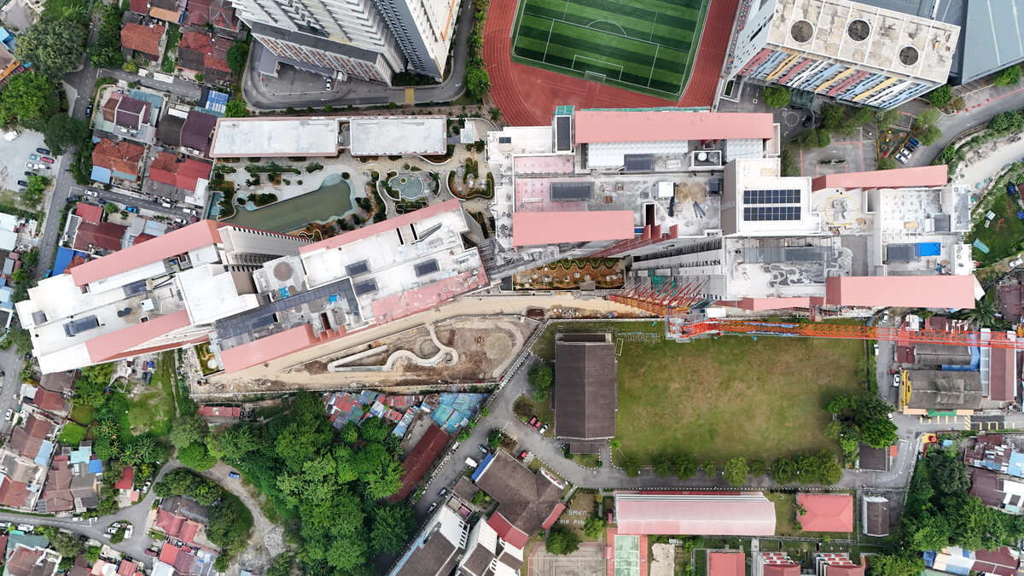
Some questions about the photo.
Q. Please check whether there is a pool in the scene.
Yes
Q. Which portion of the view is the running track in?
top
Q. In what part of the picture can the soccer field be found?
top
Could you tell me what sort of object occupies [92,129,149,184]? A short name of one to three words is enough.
house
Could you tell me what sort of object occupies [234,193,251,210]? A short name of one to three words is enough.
swimming pool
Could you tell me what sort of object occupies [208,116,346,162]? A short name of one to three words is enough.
building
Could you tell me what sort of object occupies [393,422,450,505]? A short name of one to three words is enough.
shed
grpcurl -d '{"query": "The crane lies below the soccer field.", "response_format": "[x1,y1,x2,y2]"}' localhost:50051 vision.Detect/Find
[601,261,1024,349]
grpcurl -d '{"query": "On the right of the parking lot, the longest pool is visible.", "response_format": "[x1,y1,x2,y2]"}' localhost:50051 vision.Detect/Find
[224,173,354,236]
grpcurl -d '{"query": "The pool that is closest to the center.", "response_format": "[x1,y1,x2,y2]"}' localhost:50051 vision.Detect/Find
[388,173,424,201]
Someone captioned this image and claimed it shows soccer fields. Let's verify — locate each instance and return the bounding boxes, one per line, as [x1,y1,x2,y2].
[510,0,706,104]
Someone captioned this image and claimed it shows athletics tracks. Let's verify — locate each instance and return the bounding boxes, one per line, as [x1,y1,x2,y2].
[479,0,736,130]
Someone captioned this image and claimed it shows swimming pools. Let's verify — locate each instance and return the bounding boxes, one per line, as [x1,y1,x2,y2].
[234,193,251,210]
[206,191,224,220]
[224,173,354,236]
[388,173,424,201]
